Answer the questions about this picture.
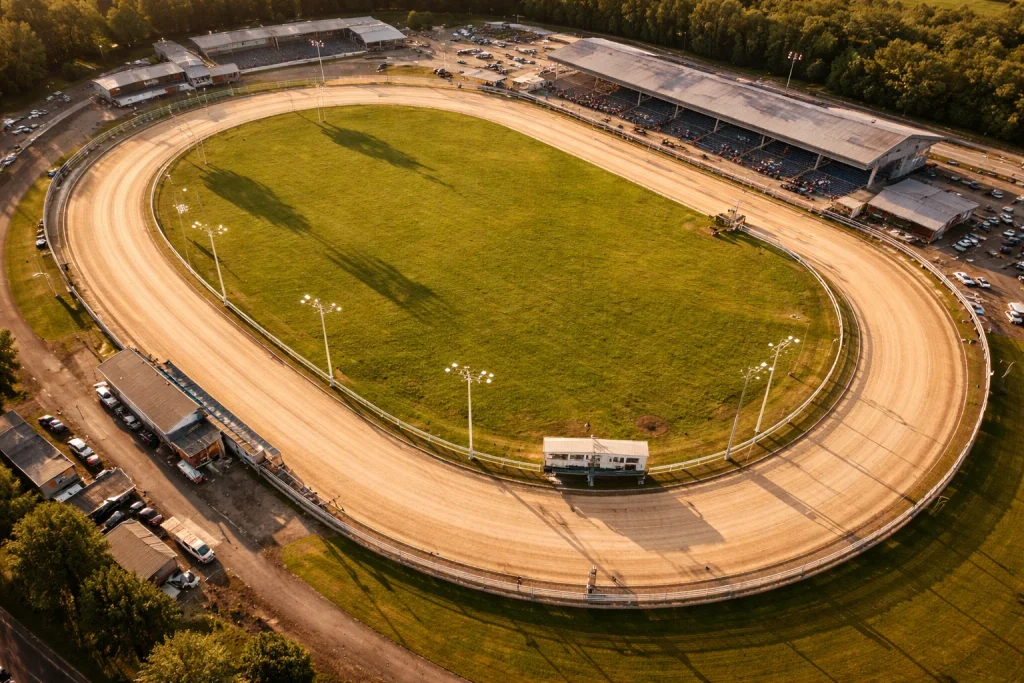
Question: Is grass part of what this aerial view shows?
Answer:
Yes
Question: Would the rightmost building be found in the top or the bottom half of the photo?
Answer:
top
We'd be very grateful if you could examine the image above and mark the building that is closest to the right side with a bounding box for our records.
[866,178,979,245]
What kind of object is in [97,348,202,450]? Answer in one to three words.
building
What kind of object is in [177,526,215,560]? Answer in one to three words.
car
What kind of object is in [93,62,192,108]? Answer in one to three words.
building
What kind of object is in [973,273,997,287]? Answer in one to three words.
car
